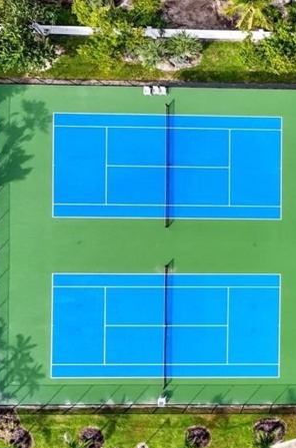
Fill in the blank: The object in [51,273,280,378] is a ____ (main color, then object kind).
blue tennis court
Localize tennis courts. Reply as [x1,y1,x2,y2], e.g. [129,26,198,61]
[52,112,281,220]
[51,273,280,378]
